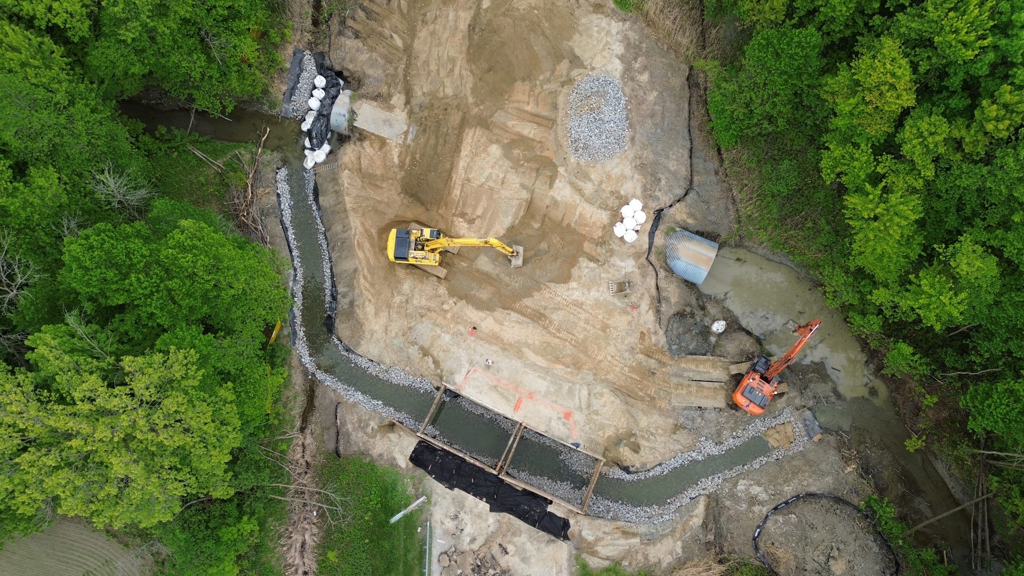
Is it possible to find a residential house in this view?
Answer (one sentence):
No, no residential house is visible in the view.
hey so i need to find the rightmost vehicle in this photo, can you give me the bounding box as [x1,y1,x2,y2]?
[724,317,820,416]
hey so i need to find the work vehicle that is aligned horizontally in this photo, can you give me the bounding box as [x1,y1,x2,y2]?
[389,225,519,282]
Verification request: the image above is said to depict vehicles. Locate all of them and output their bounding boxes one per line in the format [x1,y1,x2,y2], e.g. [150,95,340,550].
[724,317,820,416]
[389,225,519,282]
